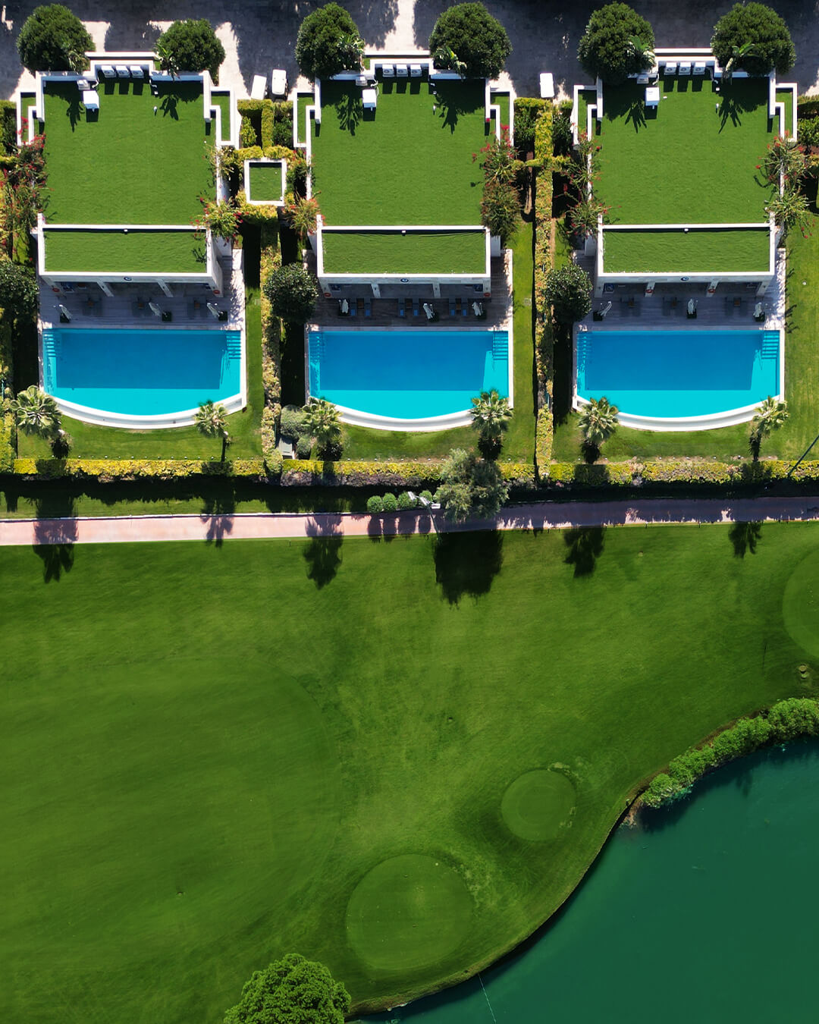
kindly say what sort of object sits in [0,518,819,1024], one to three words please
golf course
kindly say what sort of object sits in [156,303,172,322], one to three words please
umbrella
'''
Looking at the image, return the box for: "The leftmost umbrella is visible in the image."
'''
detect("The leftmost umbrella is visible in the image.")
[56,304,71,322]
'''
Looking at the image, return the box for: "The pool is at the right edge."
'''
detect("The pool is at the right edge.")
[574,325,782,431]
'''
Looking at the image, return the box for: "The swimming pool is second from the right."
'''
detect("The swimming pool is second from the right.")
[305,326,513,431]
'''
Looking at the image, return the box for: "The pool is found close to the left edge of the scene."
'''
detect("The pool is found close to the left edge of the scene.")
[38,323,246,429]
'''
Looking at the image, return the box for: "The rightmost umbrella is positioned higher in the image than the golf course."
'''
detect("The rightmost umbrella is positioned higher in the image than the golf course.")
[755,303,767,322]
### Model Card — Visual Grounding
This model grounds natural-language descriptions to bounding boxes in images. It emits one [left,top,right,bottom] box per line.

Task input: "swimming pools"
[305,326,513,431]
[574,325,782,431]
[38,323,246,429]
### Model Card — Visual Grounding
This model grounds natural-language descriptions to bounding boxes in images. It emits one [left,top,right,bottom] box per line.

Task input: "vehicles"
[250,74,270,103]
[539,72,555,100]
[272,69,289,103]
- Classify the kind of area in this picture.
golf course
